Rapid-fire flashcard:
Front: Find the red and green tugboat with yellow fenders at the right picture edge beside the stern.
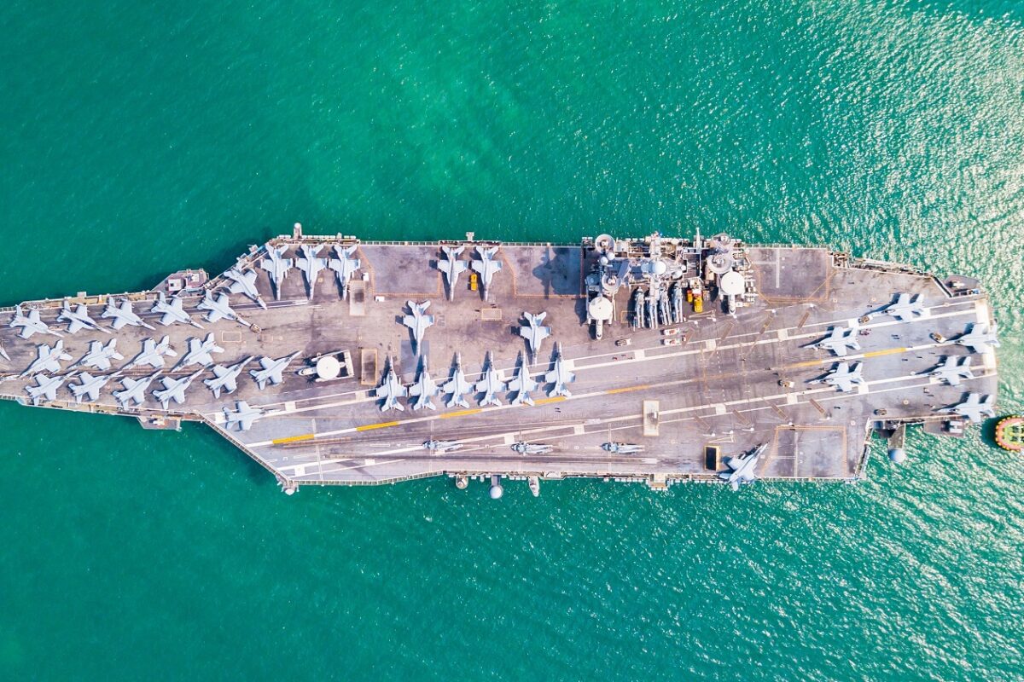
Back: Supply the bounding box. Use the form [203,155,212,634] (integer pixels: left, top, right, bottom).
[989,415,1024,453]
